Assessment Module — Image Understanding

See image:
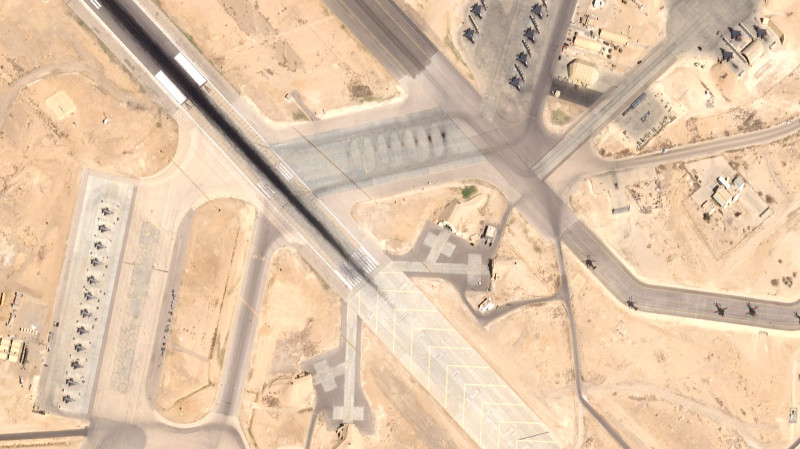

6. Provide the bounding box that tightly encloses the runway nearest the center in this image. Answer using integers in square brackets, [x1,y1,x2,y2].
[180,81,380,290]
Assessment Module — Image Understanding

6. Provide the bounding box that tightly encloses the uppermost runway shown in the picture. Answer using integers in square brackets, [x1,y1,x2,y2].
[82,0,207,105]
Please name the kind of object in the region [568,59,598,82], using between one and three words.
hangar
